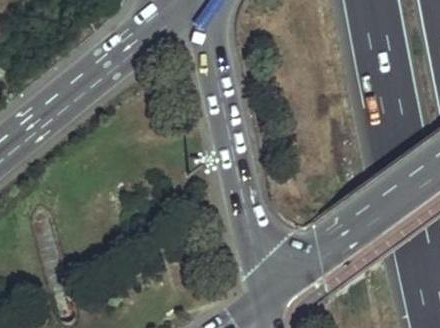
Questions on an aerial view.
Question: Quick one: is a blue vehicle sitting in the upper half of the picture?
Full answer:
Yes, you'll find a blue vehicle in the upper half of the picture.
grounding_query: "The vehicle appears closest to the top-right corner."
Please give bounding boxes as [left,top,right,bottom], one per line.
[378,52,390,74]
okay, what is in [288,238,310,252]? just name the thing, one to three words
car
